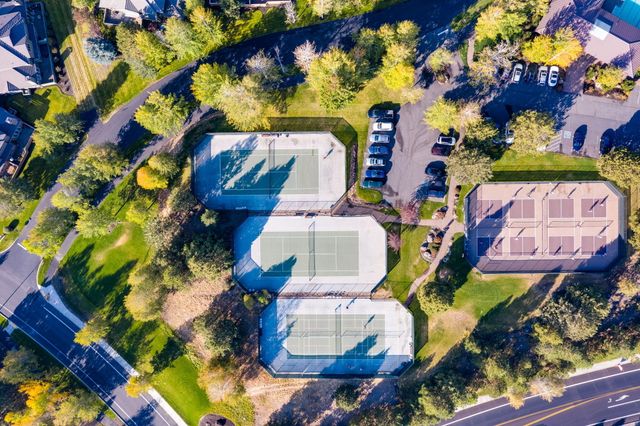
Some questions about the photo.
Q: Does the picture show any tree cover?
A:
Yes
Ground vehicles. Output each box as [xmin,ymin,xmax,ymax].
[369,145,389,154]
[366,157,386,166]
[365,169,385,177]
[370,134,390,142]
[436,136,456,144]
[428,187,448,196]
[548,67,559,87]
[598,132,611,152]
[428,177,448,186]
[571,130,584,151]
[511,63,523,84]
[373,122,393,131]
[363,179,383,188]
[432,145,452,154]
[537,64,549,88]
[369,109,394,119]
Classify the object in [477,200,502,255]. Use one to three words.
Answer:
sports court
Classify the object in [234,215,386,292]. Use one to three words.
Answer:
tennis court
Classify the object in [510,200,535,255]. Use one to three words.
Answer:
sports court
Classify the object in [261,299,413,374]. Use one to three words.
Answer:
tennis court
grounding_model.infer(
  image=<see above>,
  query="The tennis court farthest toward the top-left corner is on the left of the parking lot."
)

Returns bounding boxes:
[195,134,346,210]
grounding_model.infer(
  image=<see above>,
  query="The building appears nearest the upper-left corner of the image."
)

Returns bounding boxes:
[0,0,57,94]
